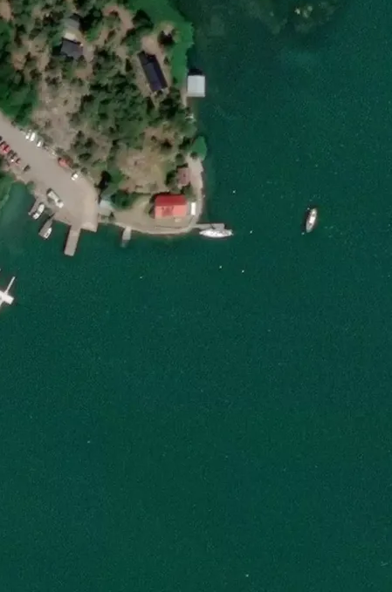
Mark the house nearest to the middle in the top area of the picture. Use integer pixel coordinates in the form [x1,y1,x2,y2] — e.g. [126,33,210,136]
[156,195,187,219]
